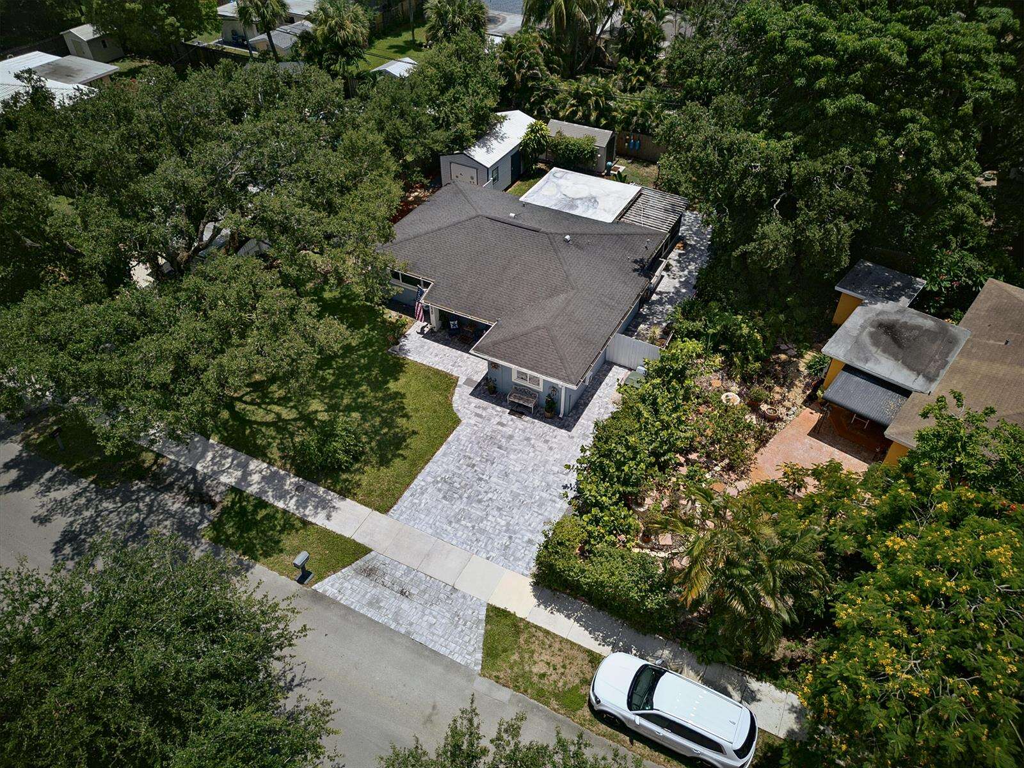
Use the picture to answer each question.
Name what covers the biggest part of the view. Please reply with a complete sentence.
For the most part, this view shows trees.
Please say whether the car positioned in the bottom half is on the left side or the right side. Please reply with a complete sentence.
The car positioned in the bottom half sits on the right side.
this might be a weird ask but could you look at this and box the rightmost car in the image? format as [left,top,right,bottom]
[596,658,751,768]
